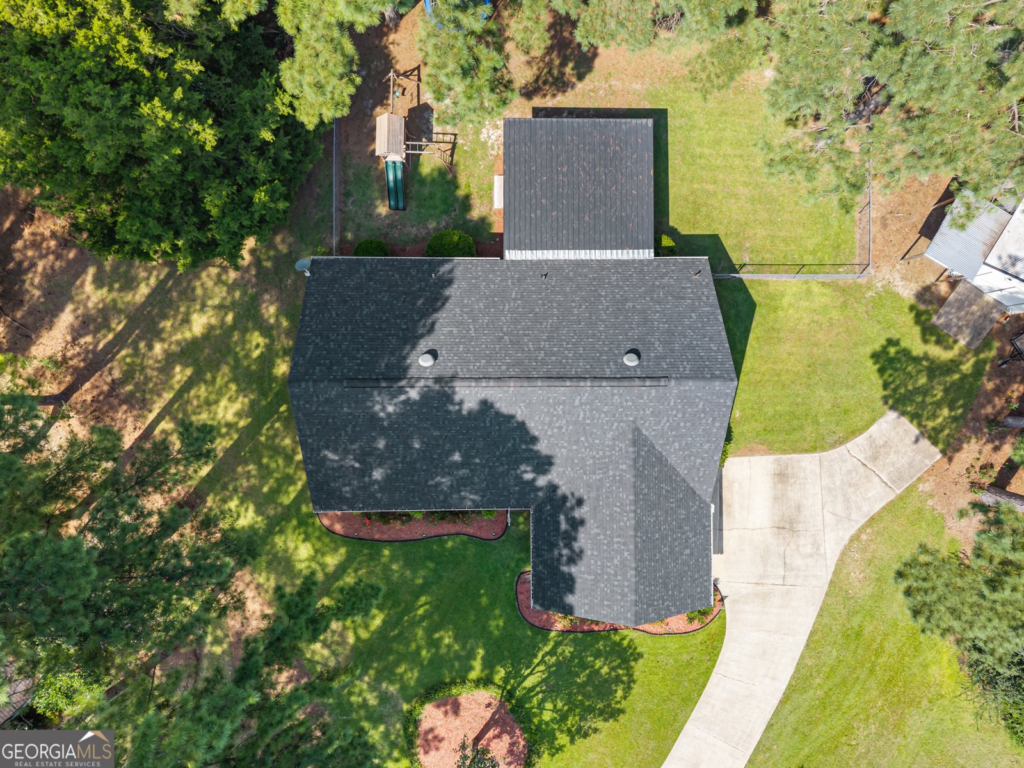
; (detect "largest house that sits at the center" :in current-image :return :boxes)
[287,255,736,627]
